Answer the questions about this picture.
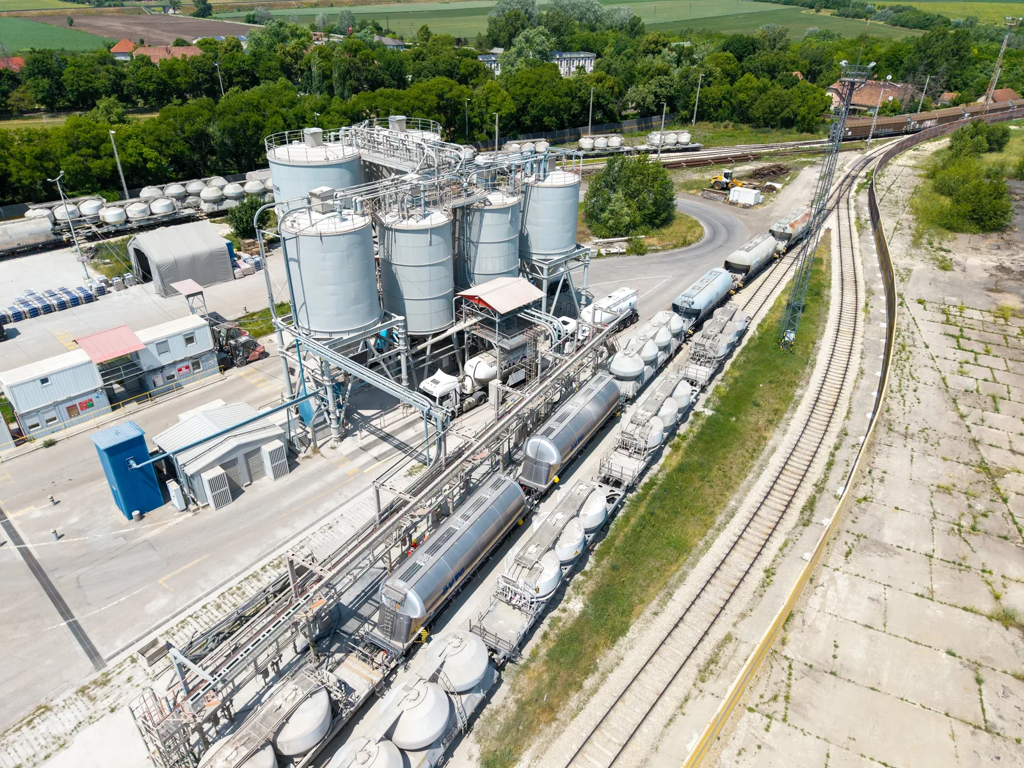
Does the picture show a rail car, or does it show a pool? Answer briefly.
rail car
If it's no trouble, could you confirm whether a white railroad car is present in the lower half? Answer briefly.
Yes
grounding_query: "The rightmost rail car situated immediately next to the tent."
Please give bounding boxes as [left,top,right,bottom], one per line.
[187,171,274,209]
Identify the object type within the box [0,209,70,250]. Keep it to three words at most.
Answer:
rail car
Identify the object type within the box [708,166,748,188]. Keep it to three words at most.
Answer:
work vehicle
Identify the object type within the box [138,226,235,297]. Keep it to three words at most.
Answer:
tent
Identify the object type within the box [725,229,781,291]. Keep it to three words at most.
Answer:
rail car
